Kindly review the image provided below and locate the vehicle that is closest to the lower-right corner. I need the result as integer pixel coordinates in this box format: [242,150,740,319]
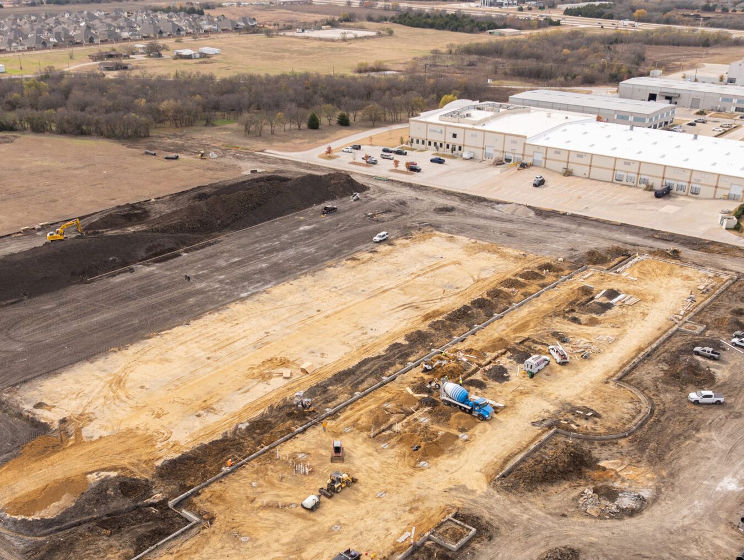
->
[686,388,729,405]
